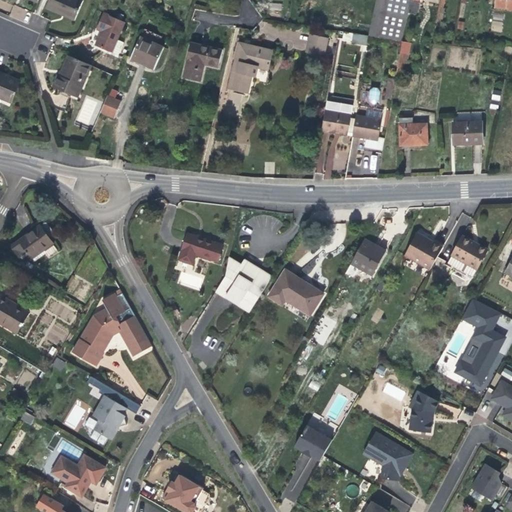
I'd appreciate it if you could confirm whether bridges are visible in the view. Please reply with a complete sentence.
No, I find no bridge anywhere in the image.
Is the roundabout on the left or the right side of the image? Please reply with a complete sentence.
The roundabout appears in the left half of the scene.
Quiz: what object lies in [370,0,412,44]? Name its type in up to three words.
building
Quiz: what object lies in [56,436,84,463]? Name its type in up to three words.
swimming pool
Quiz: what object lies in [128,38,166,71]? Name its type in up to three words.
house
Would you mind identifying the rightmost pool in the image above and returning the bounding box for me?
[448,332,467,355]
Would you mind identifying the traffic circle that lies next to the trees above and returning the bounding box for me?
[55,166,142,250]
